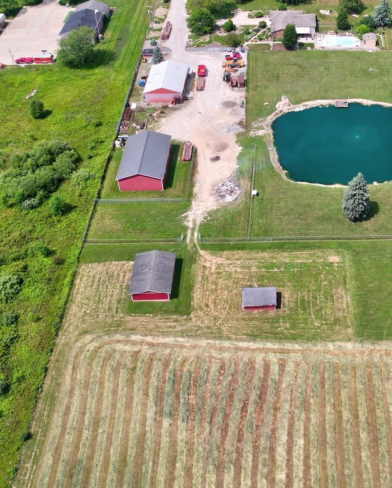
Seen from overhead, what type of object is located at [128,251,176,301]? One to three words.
barn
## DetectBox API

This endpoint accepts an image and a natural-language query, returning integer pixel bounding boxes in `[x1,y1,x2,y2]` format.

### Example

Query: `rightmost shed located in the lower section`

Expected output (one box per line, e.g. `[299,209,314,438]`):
[243,286,277,311]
